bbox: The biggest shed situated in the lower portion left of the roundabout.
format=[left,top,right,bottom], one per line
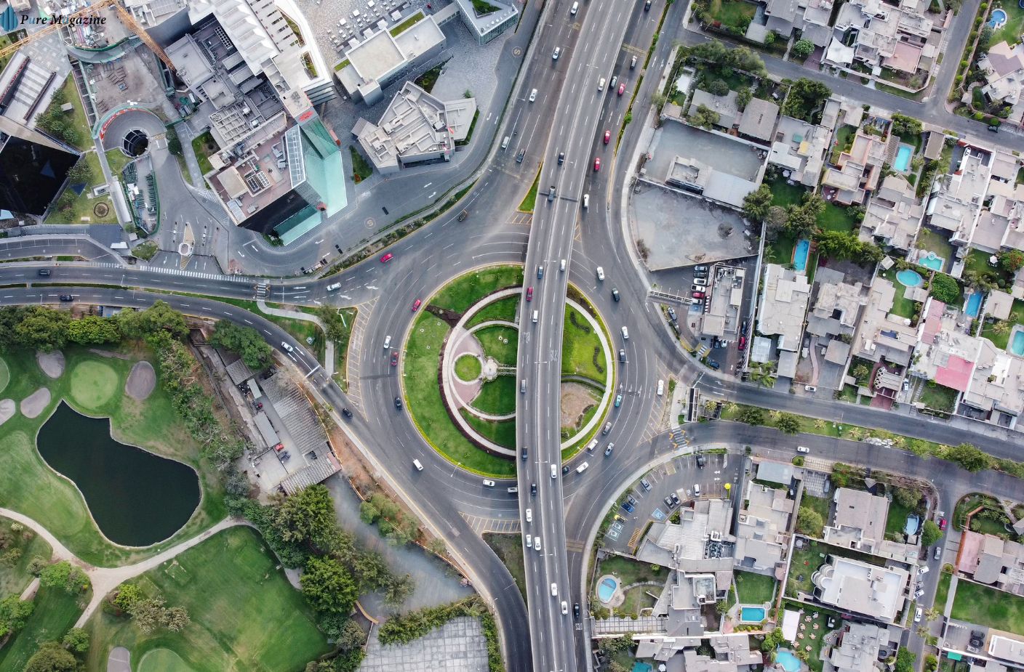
[216,348,345,494]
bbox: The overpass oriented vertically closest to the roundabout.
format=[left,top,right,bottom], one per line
[516,0,635,672]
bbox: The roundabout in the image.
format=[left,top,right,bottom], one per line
[360,221,657,519]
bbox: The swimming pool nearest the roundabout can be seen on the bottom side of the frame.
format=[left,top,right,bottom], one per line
[594,574,621,607]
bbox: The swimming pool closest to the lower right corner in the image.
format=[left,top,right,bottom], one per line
[903,514,921,535]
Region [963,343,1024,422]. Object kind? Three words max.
house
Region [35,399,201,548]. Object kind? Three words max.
pond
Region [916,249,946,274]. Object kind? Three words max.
swimming pool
